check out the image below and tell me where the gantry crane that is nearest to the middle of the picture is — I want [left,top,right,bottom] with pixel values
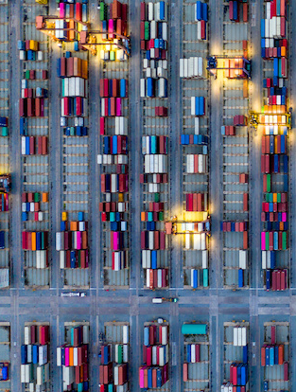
[164,217,214,238]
